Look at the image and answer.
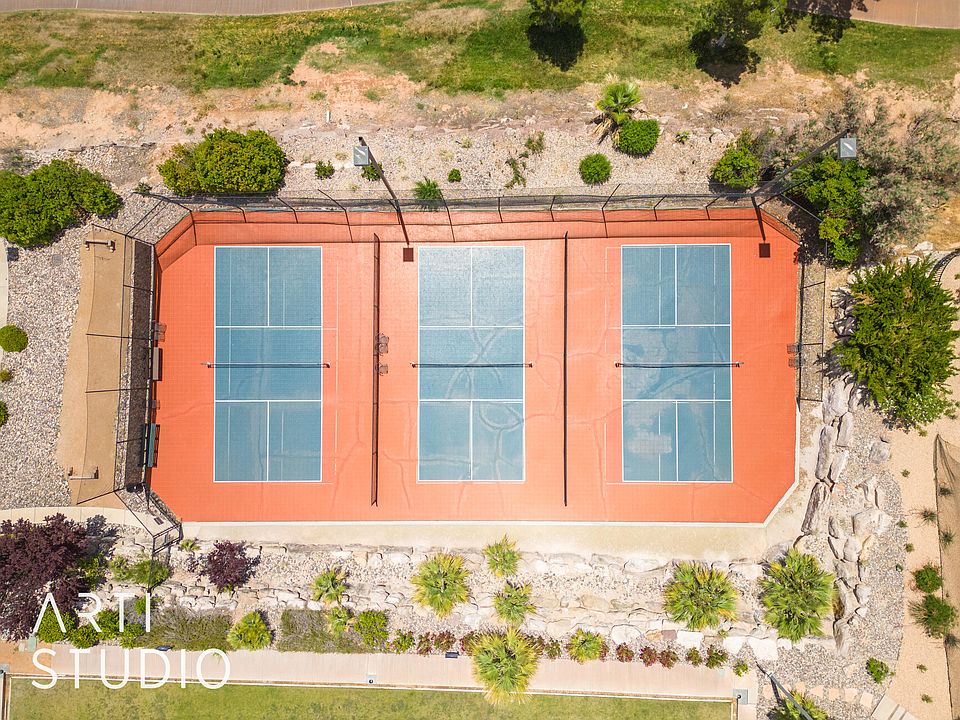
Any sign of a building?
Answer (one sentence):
No, no building can be seen from above.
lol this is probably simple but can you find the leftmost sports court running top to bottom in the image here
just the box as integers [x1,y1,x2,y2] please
[214,247,322,483]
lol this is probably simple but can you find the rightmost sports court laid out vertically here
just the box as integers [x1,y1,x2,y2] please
[622,244,732,483]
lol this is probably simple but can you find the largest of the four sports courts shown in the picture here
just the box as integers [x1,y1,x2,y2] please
[146,204,802,527]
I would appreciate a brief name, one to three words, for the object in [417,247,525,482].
sports court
